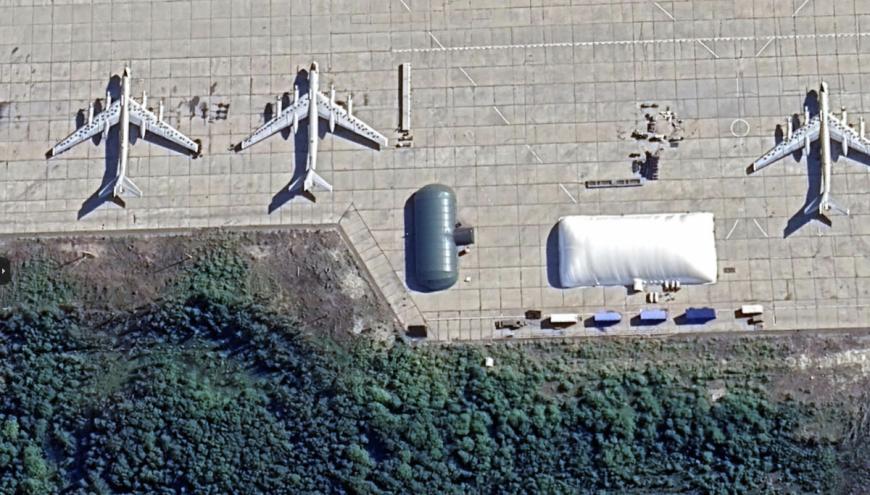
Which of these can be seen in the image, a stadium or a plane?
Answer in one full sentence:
The image shows a plane.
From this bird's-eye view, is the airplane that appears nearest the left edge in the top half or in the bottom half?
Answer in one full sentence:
The top half of the photo is where the airplane that appears nearest the left edge is.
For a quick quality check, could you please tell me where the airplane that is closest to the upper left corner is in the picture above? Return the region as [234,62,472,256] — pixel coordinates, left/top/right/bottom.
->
[54,68,198,197]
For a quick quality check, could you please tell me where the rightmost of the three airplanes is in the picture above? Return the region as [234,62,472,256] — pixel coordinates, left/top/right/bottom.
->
[752,79,870,215]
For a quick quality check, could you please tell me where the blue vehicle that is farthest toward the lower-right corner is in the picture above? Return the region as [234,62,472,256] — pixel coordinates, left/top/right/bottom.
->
[686,307,719,319]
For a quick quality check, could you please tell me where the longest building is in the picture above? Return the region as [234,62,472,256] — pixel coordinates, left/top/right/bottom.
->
[555,210,719,292]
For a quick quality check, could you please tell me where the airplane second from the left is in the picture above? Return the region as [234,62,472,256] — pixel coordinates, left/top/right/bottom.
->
[243,63,387,194]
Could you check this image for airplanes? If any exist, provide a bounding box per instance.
[243,63,387,194]
[54,68,198,197]
[752,79,870,215]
